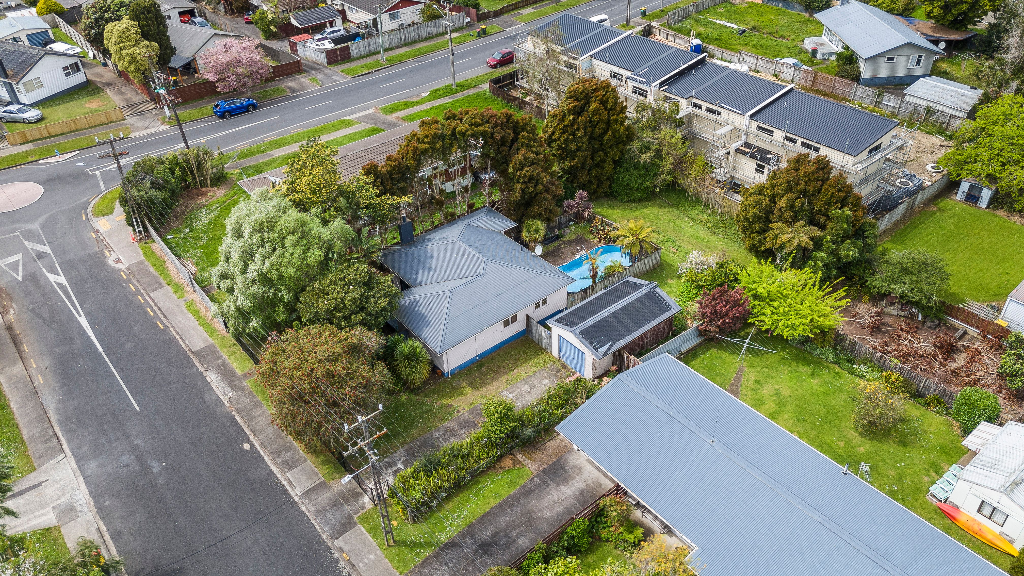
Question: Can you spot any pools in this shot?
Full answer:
Yes, looking at the shot, I can spot a pool.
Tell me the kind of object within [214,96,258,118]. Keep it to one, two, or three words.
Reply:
car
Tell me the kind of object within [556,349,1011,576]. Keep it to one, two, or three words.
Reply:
house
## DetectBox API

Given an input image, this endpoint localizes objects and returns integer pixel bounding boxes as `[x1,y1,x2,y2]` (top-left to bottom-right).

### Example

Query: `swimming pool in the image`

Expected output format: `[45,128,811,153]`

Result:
[557,242,636,303]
